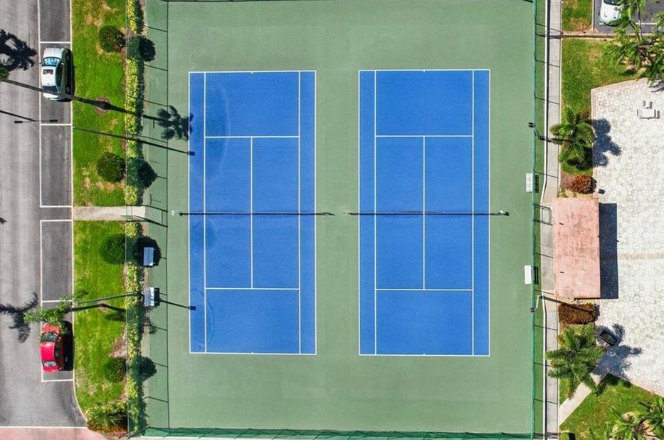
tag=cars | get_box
[36,45,68,99]
[34,320,66,374]
[601,0,628,23]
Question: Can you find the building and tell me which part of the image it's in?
right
